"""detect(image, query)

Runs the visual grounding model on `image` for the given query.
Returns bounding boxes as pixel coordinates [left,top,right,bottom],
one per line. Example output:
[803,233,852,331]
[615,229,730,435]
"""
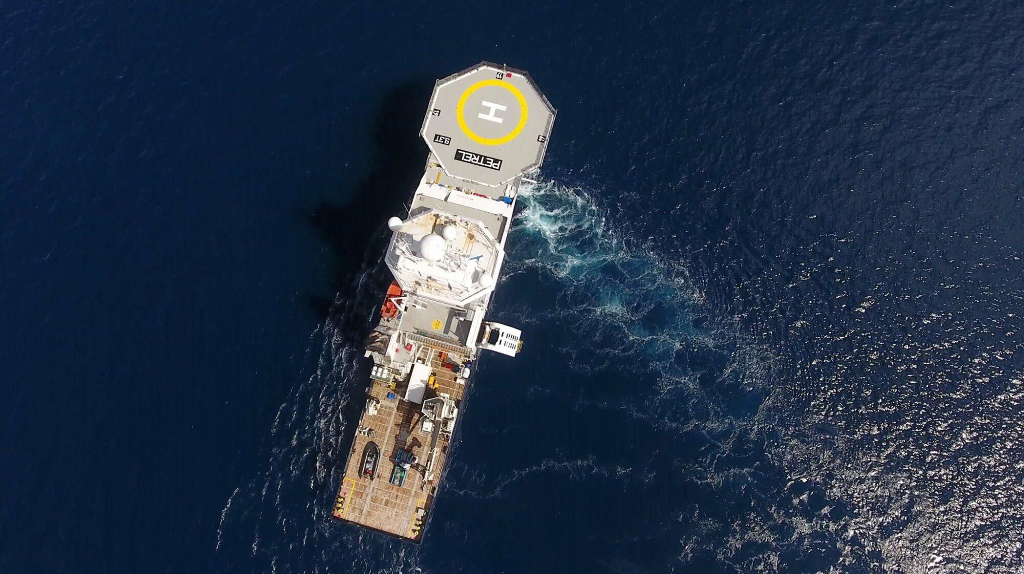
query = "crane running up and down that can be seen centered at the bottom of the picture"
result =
[418,396,445,472]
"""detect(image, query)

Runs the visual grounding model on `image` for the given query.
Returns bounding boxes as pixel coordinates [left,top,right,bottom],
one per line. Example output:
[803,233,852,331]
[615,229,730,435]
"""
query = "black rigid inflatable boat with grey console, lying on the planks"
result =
[357,442,379,483]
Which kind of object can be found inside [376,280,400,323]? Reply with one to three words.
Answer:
boat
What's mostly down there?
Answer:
water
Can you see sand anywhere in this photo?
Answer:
No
